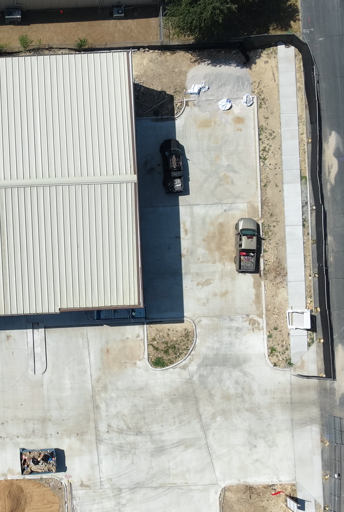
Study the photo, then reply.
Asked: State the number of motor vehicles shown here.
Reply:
2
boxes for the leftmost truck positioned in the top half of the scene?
[159,139,184,196]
